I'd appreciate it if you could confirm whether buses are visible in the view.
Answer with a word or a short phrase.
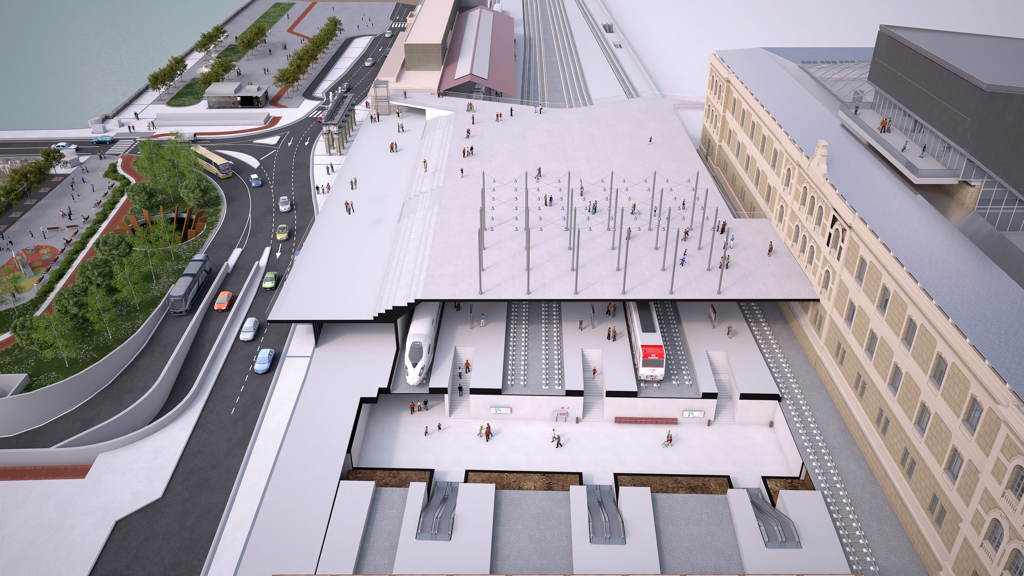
Yes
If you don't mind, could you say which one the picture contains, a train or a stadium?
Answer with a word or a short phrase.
train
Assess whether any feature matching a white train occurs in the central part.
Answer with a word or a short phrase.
Yes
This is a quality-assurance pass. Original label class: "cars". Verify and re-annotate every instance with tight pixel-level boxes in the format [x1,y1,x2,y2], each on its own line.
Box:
[316,109,328,121]
[290,247,302,267]
[252,348,275,380]
[211,293,236,316]
[384,29,393,37]
[237,318,260,346]
[340,82,351,92]
[48,139,79,149]
[383,47,392,56]
[89,133,115,144]
[247,171,262,186]
[275,195,293,212]
[273,224,292,242]
[365,57,374,66]
[259,270,279,292]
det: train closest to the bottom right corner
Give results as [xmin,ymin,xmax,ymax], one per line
[624,302,670,382]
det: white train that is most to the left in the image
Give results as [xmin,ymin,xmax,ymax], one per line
[401,303,440,381]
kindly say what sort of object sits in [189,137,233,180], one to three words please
bus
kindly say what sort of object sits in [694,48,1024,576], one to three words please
building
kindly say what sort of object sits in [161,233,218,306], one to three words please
bus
